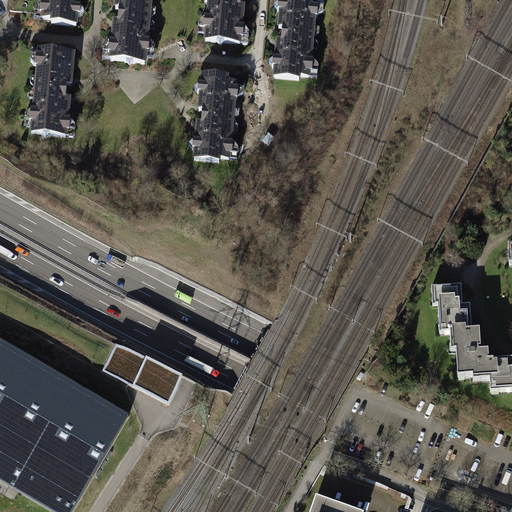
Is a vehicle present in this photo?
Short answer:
Yes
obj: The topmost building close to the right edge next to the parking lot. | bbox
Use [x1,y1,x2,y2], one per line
[430,282,512,395]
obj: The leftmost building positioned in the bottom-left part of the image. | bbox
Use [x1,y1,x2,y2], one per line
[0,338,130,512]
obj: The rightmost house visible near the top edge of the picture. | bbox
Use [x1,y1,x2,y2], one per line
[268,0,320,79]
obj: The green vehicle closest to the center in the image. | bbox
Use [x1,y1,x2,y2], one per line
[174,291,193,306]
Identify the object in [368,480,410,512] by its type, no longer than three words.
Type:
building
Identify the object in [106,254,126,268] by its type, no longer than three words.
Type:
vehicle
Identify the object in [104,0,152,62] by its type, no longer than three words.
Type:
house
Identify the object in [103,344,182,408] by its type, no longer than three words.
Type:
building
